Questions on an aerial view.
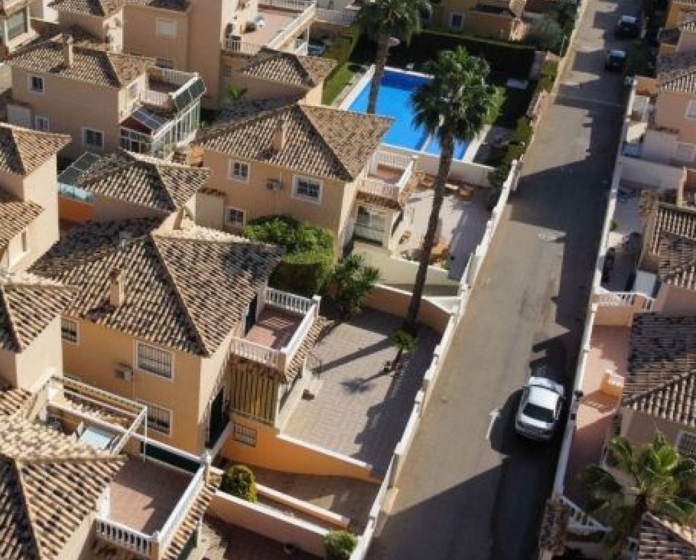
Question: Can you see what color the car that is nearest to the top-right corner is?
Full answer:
The color of the car that is nearest to the top-right corner is black.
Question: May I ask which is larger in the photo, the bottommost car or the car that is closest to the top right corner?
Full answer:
Compared with the car that is closest to the top right corner, the bottommost car is the bigger one.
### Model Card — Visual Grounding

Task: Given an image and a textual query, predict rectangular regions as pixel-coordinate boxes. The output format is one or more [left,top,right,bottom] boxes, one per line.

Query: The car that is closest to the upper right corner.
[619,14,642,39]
